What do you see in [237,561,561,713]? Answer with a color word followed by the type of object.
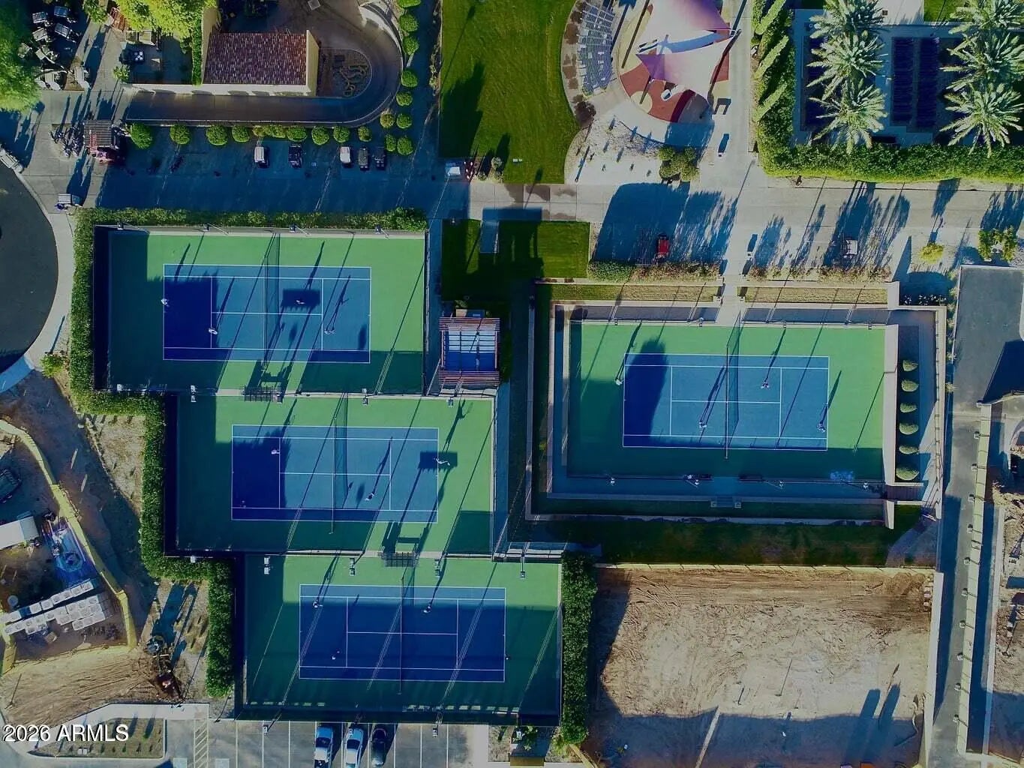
blue tennis court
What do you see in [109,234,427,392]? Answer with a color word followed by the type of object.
blue tennis court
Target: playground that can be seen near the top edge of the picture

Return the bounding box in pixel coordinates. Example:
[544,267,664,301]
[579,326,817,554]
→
[617,0,739,123]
